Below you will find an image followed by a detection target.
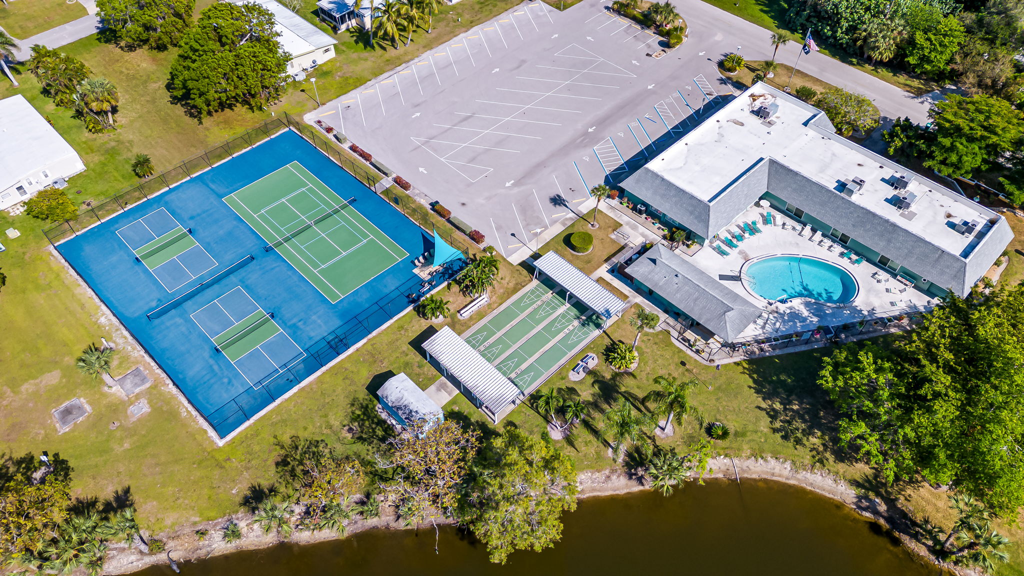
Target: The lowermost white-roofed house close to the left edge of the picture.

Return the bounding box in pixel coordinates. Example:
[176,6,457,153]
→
[0,93,86,208]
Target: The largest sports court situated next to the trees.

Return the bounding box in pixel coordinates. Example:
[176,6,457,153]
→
[51,125,471,452]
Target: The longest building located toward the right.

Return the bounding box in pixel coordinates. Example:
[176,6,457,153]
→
[618,81,1014,297]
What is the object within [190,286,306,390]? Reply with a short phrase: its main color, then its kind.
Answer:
blue sports court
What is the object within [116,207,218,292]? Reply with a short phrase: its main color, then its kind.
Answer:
blue sports court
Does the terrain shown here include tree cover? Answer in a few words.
Yes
